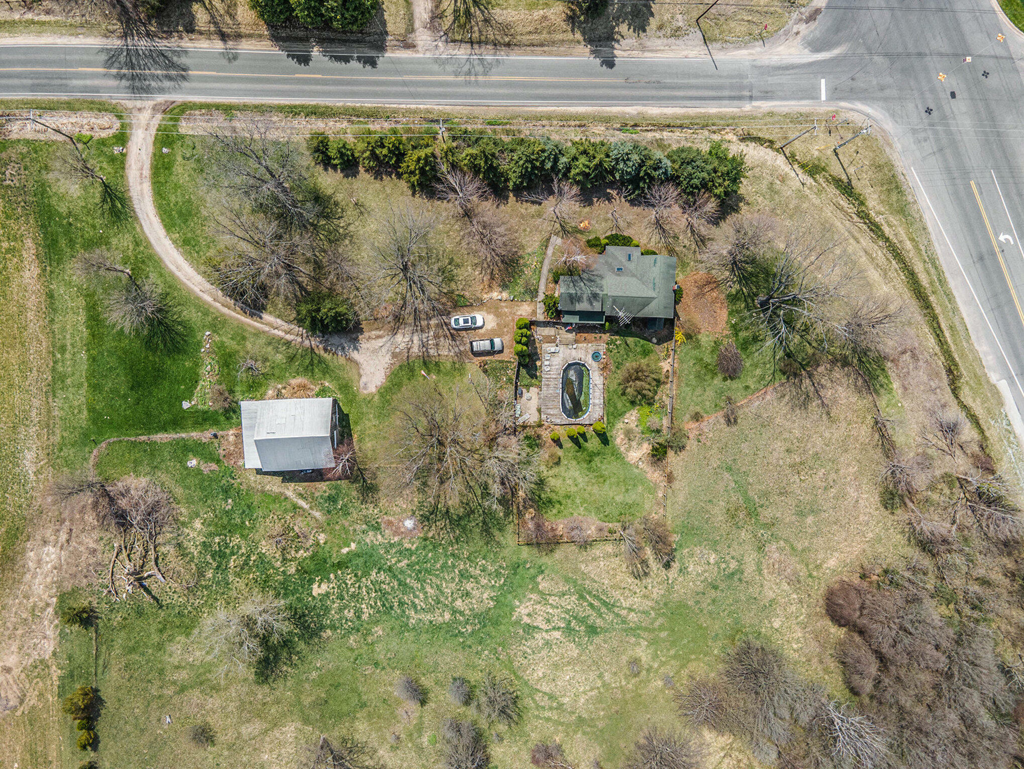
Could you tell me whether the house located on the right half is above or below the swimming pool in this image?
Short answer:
above it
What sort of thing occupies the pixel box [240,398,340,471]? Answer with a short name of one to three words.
barn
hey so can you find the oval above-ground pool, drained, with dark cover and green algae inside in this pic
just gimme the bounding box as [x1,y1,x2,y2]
[560,362,592,419]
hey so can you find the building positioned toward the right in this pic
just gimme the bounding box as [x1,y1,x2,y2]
[560,246,683,331]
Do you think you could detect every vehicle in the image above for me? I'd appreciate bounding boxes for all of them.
[471,338,504,353]
[451,314,484,330]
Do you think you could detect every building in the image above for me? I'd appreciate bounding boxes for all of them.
[560,246,683,331]
[240,398,340,471]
